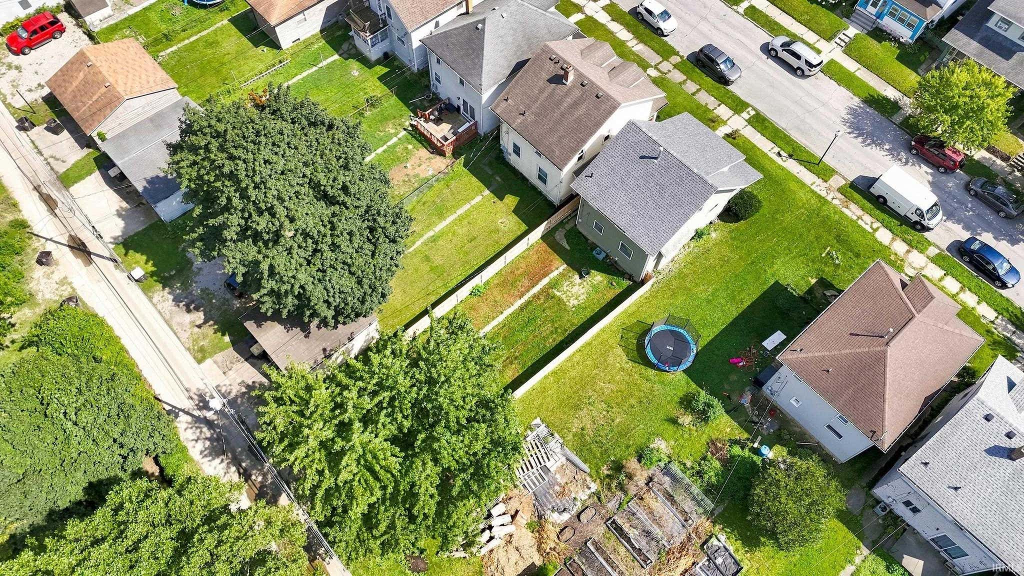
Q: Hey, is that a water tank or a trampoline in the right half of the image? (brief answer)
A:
trampoline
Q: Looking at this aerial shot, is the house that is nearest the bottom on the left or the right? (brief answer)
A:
right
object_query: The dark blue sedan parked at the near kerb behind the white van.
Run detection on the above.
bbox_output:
[960,237,1024,290]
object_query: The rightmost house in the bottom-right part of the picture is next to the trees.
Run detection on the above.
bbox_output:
[878,362,1024,576]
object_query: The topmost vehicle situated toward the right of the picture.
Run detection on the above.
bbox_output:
[636,0,678,36]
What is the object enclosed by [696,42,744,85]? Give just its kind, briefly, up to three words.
car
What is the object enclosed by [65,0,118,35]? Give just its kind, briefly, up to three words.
shed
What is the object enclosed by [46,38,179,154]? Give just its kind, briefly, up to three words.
building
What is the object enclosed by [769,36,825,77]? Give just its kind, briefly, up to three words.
car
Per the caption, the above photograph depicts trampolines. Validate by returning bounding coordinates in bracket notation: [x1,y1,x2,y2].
[641,312,702,377]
